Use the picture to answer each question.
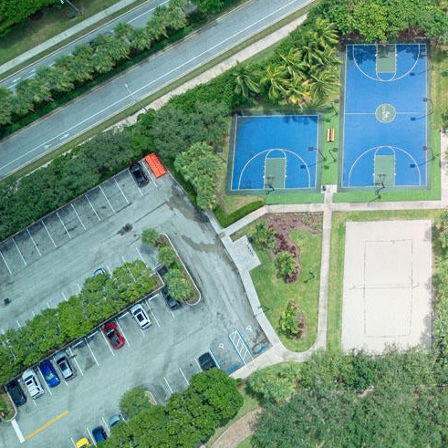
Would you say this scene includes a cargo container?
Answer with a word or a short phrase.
Yes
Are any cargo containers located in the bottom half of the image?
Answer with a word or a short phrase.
No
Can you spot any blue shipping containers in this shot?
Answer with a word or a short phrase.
No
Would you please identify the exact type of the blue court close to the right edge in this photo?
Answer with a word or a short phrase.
basketball court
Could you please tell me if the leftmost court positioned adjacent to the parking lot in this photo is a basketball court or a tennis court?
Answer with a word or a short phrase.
basketball court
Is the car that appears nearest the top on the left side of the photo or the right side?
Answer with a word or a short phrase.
left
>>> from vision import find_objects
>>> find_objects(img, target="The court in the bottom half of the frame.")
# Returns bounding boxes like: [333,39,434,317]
[341,220,432,361]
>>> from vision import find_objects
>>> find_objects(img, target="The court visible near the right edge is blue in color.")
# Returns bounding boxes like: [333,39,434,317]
[337,41,431,192]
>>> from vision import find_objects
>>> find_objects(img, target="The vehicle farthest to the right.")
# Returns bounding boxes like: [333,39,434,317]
[199,351,221,376]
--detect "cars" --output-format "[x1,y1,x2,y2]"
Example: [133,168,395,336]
[104,322,125,350]
[161,289,183,311]
[92,424,110,444]
[78,436,94,448]
[22,370,46,399]
[130,304,152,329]
[55,353,76,380]
[199,351,221,376]
[40,359,61,387]
[5,377,30,407]
[110,413,132,435]
[129,164,150,188]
